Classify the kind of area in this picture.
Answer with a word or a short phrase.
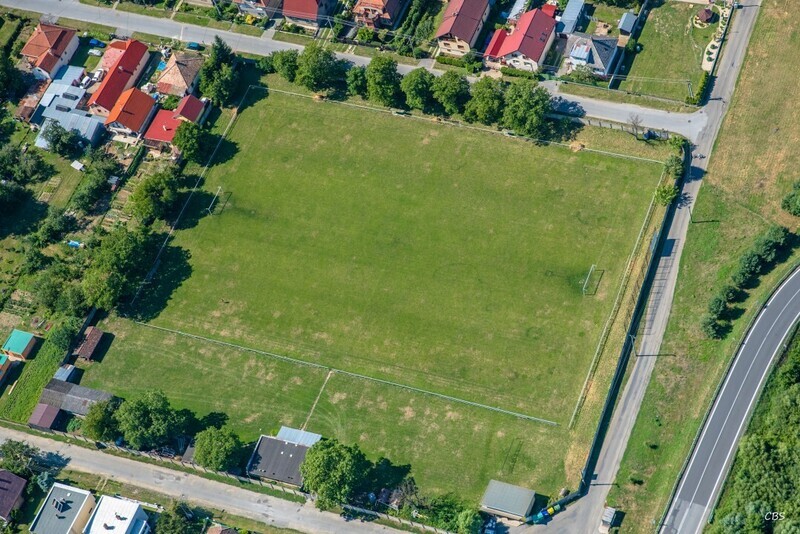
sports ground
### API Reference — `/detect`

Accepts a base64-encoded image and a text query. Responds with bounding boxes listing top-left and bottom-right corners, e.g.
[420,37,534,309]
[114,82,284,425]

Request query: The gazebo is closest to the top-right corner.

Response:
[695,7,713,26]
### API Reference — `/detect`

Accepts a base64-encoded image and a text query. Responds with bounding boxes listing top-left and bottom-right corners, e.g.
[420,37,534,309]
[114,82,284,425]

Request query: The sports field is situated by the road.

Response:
[131,91,661,426]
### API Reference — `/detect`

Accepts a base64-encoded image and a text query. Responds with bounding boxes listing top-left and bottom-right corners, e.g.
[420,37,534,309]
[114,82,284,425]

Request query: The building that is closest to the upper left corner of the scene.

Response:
[20,23,76,80]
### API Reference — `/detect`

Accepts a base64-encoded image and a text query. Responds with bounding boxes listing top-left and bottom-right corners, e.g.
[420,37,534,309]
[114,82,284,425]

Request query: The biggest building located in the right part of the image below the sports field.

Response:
[482,479,534,522]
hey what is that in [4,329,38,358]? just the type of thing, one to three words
building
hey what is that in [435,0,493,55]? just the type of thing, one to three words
house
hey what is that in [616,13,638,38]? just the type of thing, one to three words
shed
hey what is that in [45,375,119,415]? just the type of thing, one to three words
barn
